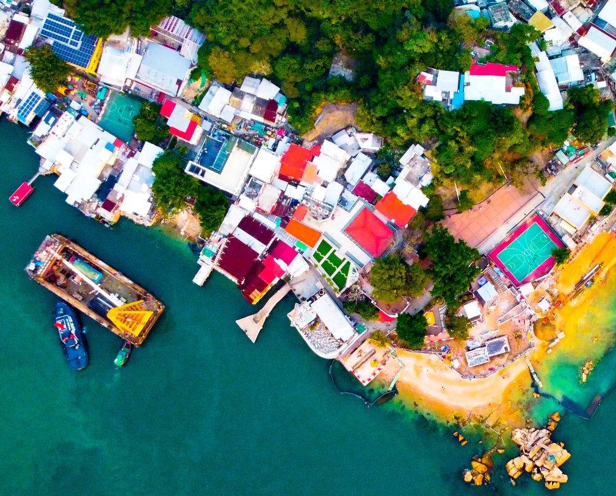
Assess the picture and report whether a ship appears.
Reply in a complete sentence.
Yes, there's a ship here.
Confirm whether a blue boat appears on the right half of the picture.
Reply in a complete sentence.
No, there's no blue boat to be seen on the right half of the picture.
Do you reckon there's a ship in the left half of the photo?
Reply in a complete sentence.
Yes, a ship is visible in the left half of the photo.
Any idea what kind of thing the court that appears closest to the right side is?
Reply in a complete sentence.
The court that appears closest to the right side appears to be a basketball court.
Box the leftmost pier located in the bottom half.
[236,284,291,343]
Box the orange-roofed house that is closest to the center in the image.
[285,219,322,247]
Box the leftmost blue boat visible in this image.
[54,300,87,369]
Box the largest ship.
[25,234,166,346]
